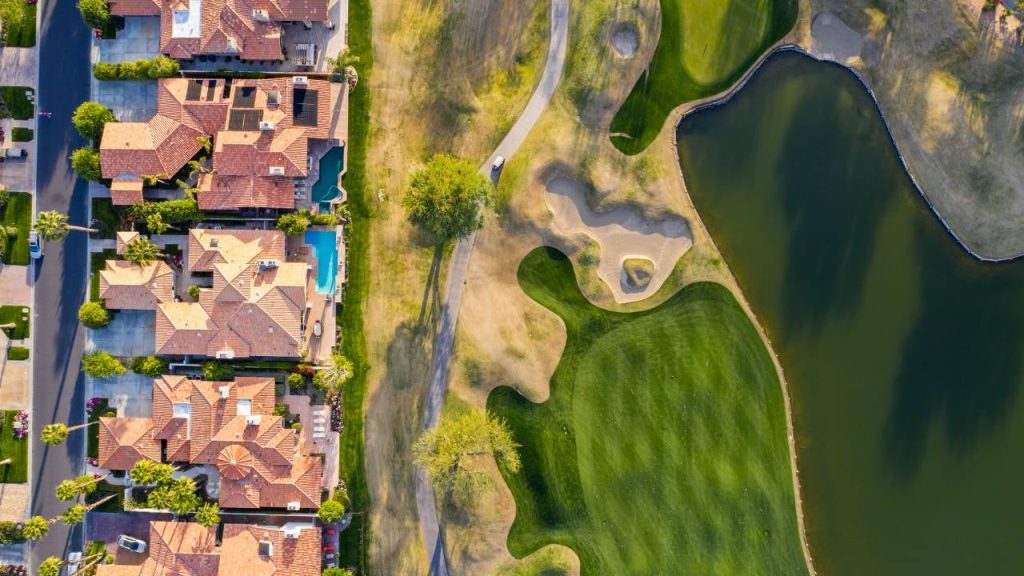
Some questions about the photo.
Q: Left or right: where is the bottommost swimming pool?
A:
left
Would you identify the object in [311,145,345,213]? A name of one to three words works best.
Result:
swimming pool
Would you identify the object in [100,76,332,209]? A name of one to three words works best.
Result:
house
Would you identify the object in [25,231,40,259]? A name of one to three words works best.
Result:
car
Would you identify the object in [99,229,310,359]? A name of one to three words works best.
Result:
house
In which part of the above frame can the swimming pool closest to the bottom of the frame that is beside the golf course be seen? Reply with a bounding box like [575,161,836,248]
[304,229,338,295]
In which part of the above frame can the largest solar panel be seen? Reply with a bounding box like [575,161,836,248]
[292,88,319,127]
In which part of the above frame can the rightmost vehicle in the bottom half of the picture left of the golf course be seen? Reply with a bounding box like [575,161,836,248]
[116,536,144,555]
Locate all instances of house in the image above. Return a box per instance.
[96,518,324,576]
[99,374,323,510]
[99,229,310,359]
[100,76,332,209]
[109,0,330,63]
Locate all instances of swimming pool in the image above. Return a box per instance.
[304,229,338,295]
[311,145,345,213]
